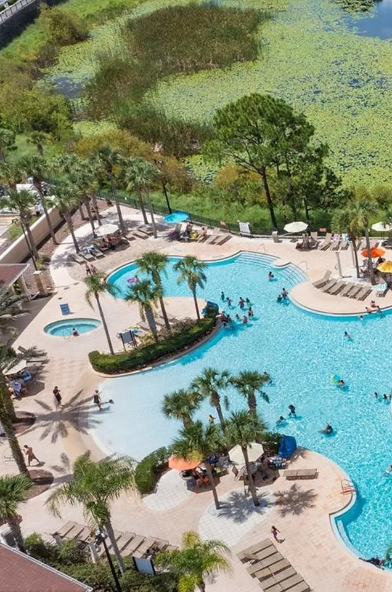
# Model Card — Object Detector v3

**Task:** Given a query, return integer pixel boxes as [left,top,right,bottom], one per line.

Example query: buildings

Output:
[0,541,95,592]
[0,263,30,305]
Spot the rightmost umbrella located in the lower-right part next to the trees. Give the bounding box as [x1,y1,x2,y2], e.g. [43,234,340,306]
[276,432,301,457]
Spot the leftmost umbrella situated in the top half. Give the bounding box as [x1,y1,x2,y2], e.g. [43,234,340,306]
[95,225,121,245]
